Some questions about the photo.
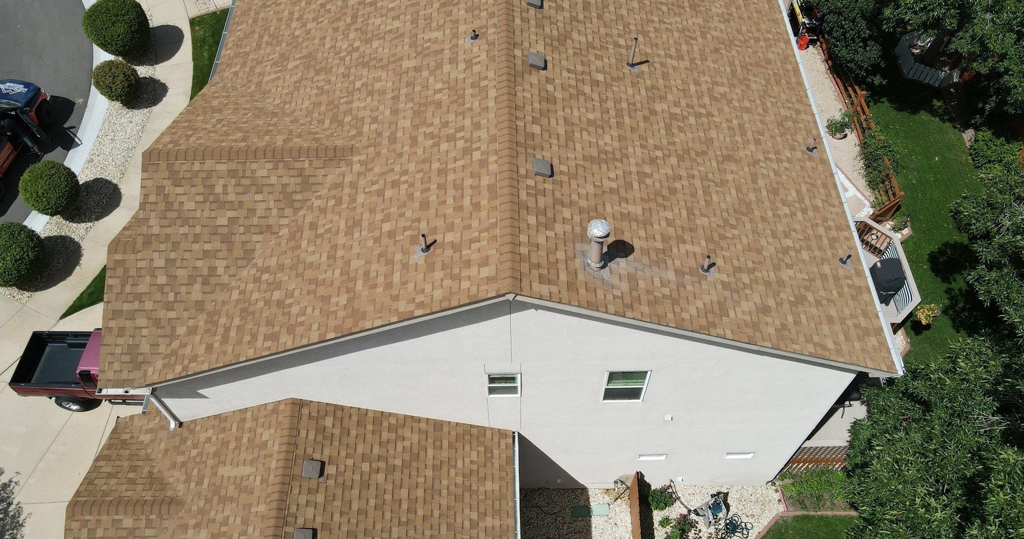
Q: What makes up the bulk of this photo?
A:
buildings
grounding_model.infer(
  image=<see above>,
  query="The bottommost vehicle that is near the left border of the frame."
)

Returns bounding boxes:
[10,325,154,406]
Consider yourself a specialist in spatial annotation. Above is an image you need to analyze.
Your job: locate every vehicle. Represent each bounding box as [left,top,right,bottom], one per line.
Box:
[0,89,57,183]
[10,325,154,406]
